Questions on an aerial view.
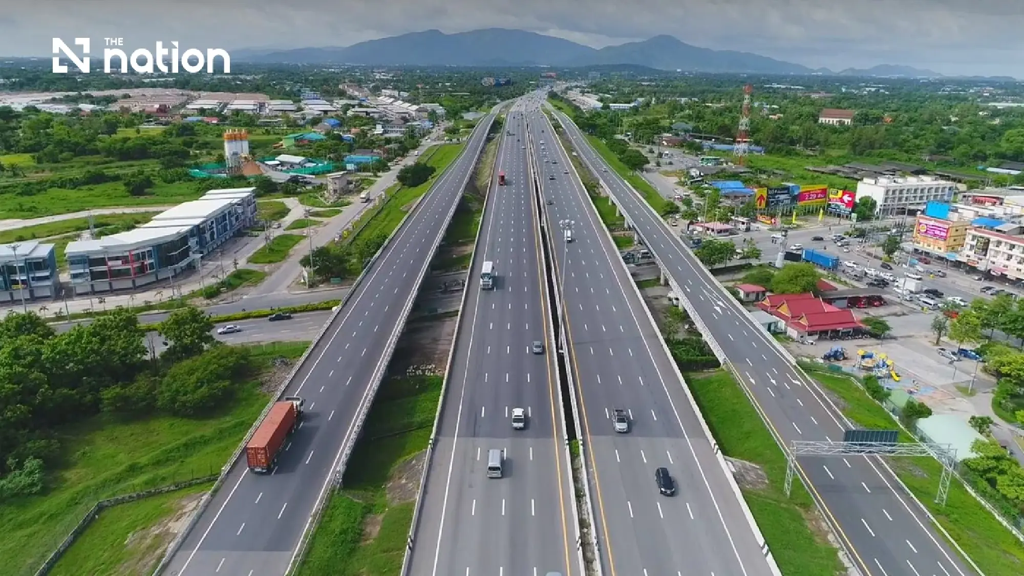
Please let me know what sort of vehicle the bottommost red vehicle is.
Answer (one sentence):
I'd identify the bottommost red vehicle as a truck.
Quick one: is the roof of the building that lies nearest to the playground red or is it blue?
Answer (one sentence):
The color of the roof of the building that lies nearest to the playground is red.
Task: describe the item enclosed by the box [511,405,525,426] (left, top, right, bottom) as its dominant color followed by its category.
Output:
white vehicle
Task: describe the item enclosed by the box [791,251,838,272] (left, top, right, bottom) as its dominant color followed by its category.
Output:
blue truck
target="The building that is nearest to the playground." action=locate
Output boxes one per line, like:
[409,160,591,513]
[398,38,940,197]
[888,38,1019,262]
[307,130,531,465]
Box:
[757,292,880,341]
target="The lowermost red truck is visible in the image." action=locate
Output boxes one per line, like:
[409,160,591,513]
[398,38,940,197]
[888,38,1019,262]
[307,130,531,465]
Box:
[250,391,305,468]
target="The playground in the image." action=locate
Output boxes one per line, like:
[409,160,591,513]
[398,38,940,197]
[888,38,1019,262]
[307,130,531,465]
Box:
[856,342,905,378]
